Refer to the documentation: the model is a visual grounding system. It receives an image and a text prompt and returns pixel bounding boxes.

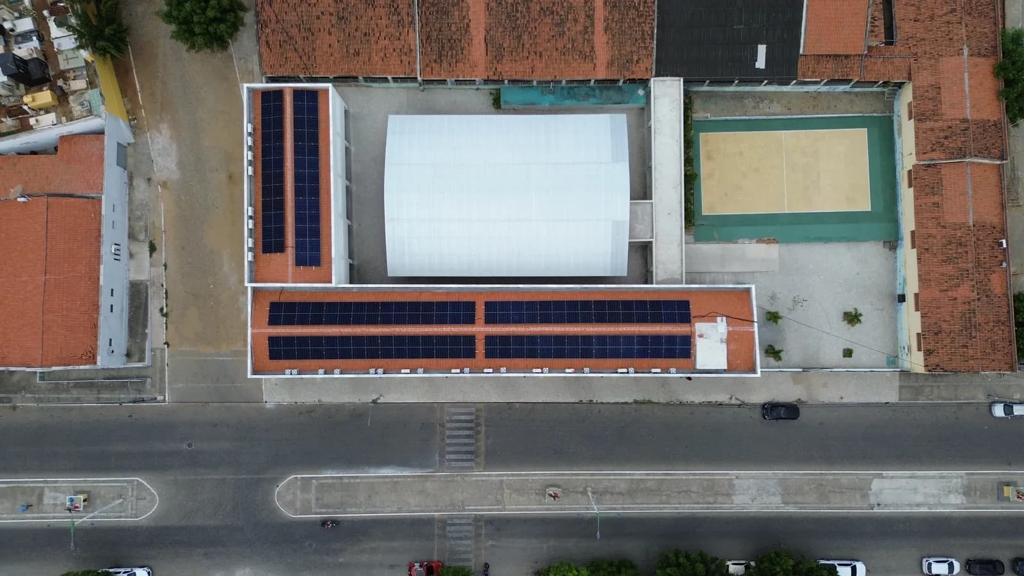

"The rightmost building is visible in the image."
[899,0,1024,372]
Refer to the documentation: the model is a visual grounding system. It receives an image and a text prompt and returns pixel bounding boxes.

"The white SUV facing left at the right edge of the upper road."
[992,401,1024,422]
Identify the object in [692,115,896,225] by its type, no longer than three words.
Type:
sports court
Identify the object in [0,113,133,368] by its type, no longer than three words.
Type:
house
